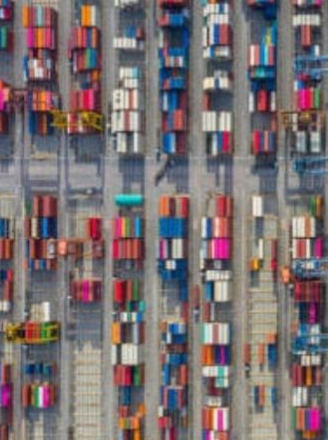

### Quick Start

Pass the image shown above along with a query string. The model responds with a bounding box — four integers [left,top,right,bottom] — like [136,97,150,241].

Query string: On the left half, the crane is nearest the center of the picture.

[51,238,106,262]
